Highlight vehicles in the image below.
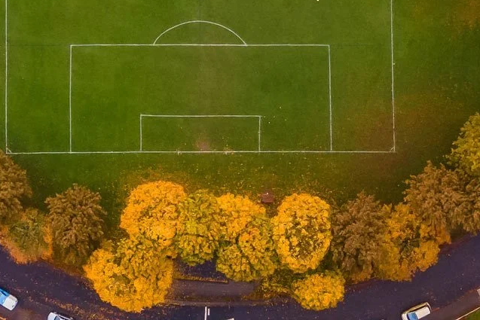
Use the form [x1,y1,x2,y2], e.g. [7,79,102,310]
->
[45,308,72,320]
[0,286,20,313]
[397,298,433,320]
